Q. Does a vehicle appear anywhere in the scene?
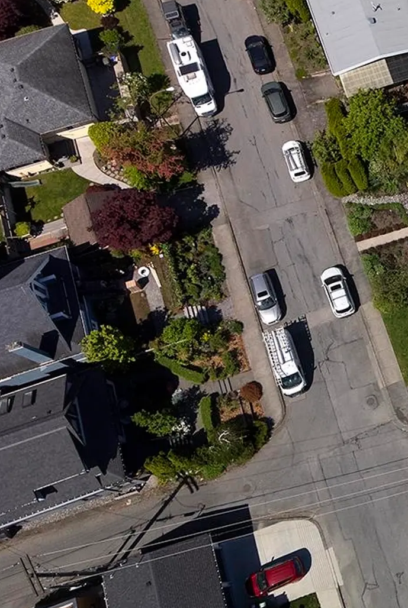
Yes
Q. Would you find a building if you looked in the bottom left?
Yes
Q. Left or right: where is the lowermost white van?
right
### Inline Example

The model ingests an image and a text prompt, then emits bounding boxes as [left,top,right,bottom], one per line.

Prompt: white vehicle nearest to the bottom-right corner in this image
[252,322,311,405]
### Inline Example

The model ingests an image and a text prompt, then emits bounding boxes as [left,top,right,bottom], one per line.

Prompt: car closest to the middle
[249,272,285,326]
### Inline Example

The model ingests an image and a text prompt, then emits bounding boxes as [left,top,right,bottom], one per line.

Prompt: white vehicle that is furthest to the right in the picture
[320,264,359,322]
